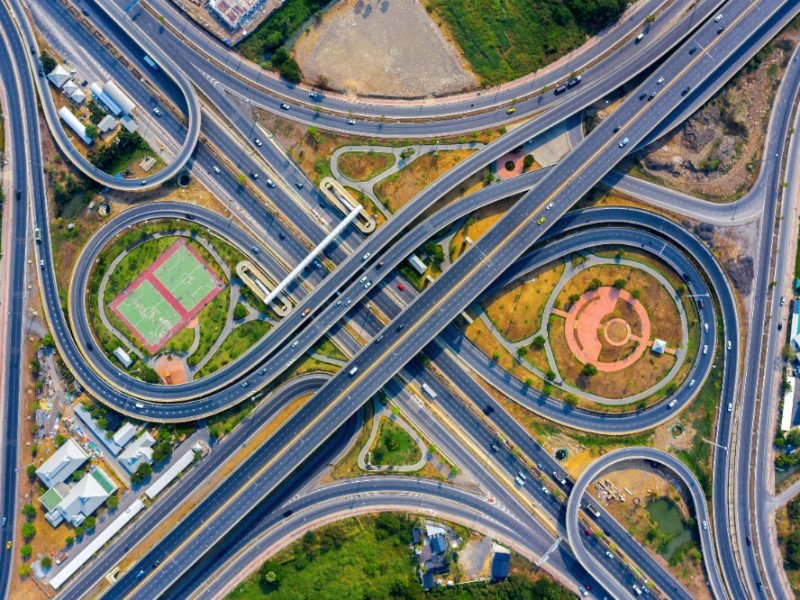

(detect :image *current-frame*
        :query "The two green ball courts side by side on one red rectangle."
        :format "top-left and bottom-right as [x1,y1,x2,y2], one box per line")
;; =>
[109,238,224,354]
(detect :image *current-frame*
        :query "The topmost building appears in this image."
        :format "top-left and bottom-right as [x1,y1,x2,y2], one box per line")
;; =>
[205,0,272,36]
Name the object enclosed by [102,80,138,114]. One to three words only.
shed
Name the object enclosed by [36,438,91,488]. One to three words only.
building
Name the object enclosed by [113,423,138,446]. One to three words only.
house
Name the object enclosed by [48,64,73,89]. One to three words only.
building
